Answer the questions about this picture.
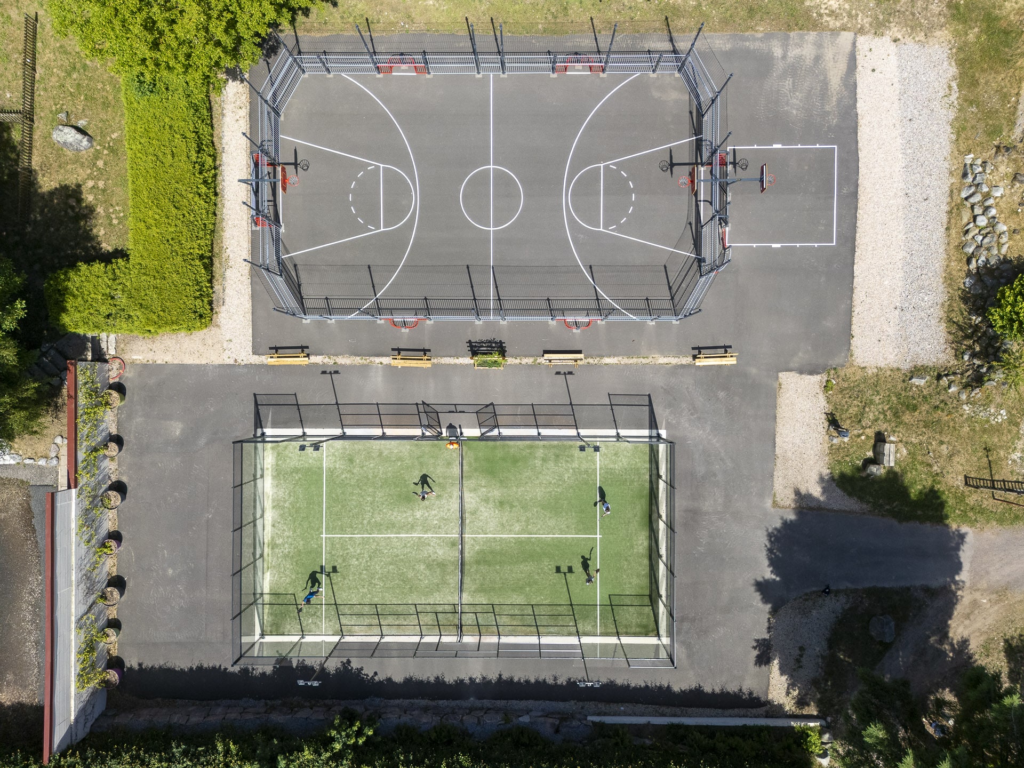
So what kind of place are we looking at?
sports ground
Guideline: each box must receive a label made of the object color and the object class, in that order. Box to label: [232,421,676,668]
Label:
green sports court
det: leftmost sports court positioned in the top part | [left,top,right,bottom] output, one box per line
[280,72,703,321]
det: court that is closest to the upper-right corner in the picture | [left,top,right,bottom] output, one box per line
[727,144,836,247]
